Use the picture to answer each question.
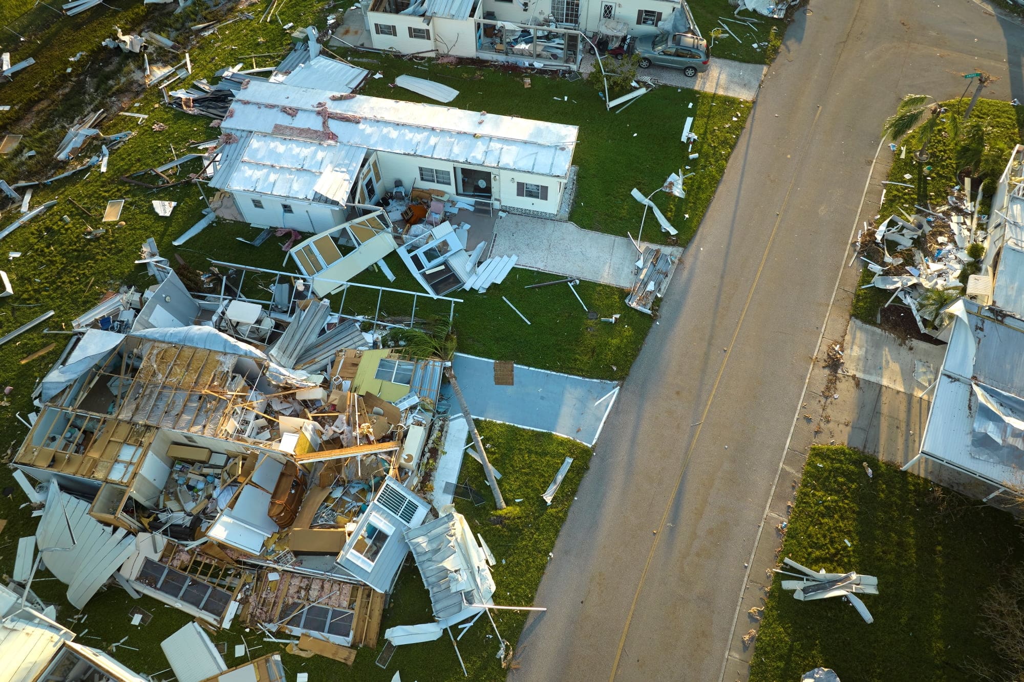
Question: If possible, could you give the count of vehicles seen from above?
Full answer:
There are 2 vehicles in the image.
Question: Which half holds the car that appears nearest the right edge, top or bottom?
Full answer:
The car that appears nearest the right edge is in the top half of the image.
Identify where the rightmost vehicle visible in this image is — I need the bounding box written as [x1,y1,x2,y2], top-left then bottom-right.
[631,31,717,78]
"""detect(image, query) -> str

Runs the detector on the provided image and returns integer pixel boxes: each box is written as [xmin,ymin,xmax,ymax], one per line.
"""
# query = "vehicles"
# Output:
[587,12,634,55]
[631,31,717,78]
